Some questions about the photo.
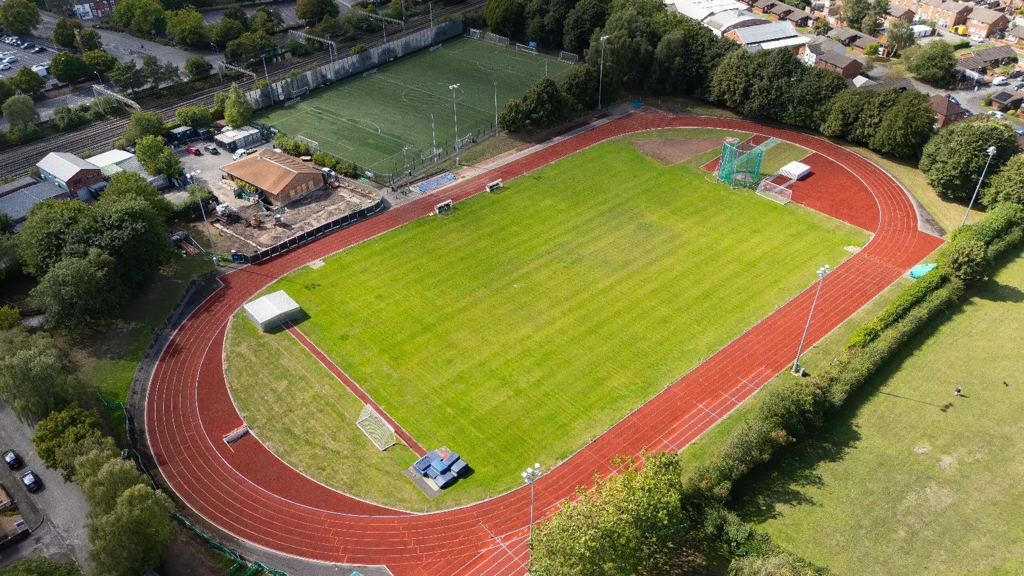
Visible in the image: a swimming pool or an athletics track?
athletics track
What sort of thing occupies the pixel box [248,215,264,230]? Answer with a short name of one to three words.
vehicle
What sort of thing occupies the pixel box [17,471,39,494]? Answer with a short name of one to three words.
car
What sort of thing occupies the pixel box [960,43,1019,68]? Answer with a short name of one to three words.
house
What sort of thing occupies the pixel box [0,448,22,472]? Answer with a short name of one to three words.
car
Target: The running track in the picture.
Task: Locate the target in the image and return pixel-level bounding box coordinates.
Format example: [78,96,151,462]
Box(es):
[146,116,917,565]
